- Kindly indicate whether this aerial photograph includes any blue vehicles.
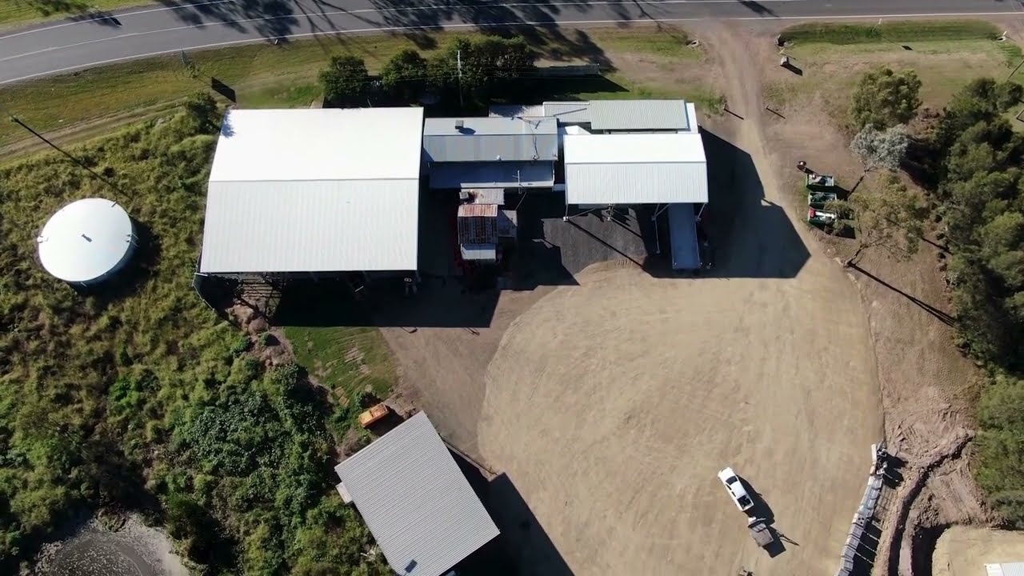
No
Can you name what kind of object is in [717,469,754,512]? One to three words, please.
truck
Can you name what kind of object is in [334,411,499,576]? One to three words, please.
shed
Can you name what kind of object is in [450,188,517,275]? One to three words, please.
building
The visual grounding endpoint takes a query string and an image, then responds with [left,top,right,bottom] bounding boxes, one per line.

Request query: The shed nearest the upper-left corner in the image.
[198,108,425,286]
